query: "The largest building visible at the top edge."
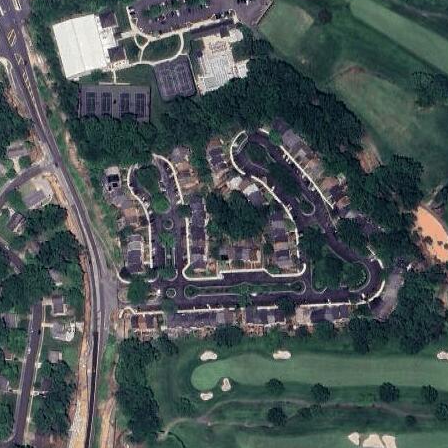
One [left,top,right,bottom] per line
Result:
[52,14,107,78]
